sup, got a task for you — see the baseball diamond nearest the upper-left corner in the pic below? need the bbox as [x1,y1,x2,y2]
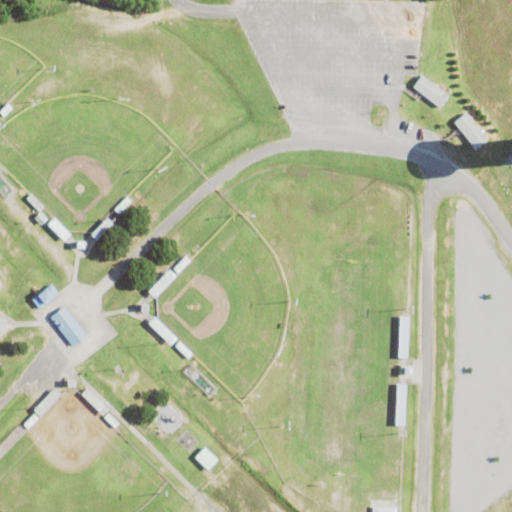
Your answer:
[0,37,44,112]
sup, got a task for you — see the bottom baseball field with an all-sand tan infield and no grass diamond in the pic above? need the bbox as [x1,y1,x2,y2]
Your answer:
[0,390,167,512]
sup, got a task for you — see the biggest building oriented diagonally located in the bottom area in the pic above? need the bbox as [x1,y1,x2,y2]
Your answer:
[50,306,87,346]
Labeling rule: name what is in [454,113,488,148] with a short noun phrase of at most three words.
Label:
house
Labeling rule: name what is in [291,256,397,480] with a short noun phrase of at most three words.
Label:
sports field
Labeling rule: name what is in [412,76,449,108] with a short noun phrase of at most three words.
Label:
house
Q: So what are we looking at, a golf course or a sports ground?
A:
sports ground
